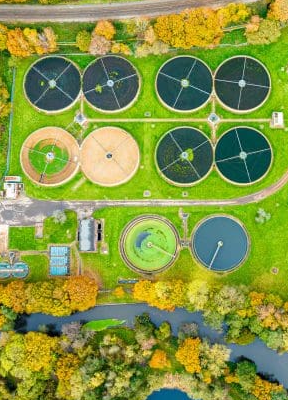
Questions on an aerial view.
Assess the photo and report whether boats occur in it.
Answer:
No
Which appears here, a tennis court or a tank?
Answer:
tank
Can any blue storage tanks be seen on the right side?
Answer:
Yes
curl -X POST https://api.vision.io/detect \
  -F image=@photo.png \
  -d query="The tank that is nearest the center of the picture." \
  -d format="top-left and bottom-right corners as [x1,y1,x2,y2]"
[119,213,180,276]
